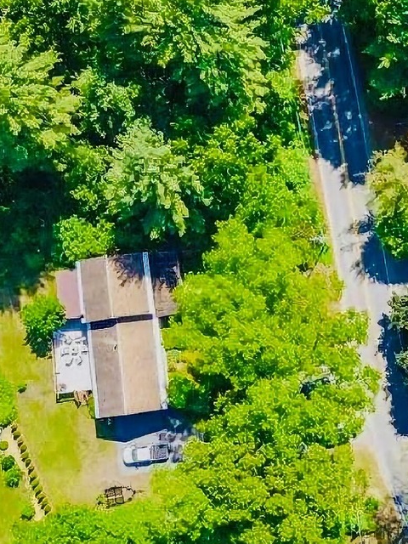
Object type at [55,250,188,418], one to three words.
house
